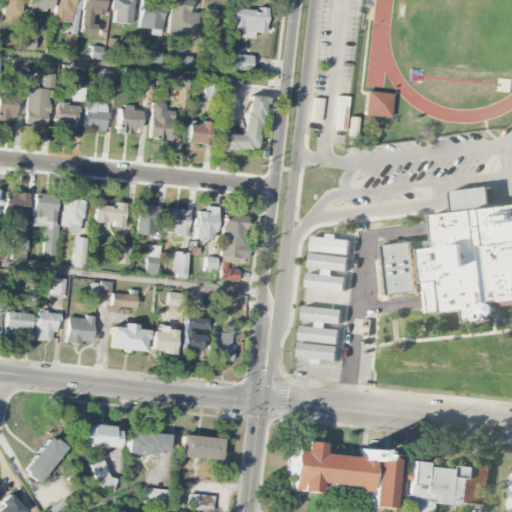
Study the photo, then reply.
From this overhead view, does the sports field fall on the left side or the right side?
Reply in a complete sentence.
The sports field appears in the right half of the scene.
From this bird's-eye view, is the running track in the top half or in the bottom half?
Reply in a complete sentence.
You can find the running track in the top half.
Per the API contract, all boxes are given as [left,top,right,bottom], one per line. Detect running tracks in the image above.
[366,0,512,124]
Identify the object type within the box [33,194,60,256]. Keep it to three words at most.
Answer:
house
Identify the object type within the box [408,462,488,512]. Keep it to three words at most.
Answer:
building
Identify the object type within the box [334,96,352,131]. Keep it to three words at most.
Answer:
building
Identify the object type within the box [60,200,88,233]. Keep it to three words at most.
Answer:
house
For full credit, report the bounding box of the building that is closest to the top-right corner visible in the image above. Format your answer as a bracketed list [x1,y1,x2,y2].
[366,92,396,118]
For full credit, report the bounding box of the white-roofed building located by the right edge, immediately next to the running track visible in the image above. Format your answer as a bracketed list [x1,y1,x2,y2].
[412,187,512,322]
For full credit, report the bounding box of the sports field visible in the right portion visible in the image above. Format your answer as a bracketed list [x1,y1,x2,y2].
[392,0,512,109]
